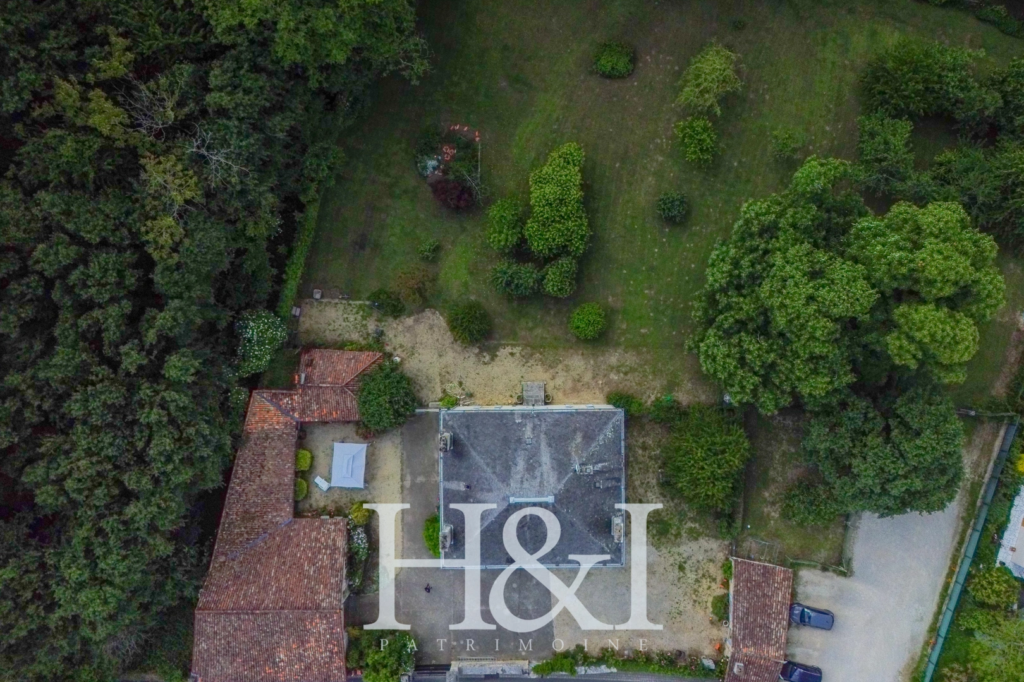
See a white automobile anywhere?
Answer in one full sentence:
No, no white automobile can be seen from above.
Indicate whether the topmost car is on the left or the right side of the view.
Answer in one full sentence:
It is on the right.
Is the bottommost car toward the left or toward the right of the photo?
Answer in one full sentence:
You can find the bottommost car on the right side of the picture.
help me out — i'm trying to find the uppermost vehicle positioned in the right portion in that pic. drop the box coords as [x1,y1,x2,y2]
[790,602,835,629]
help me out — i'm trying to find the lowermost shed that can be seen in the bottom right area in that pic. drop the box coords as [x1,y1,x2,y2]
[716,554,793,682]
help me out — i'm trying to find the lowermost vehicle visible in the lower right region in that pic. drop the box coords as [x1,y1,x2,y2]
[781,660,823,682]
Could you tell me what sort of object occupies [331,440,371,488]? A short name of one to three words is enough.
gazebo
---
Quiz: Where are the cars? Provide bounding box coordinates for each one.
[790,602,835,629]
[781,660,823,682]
